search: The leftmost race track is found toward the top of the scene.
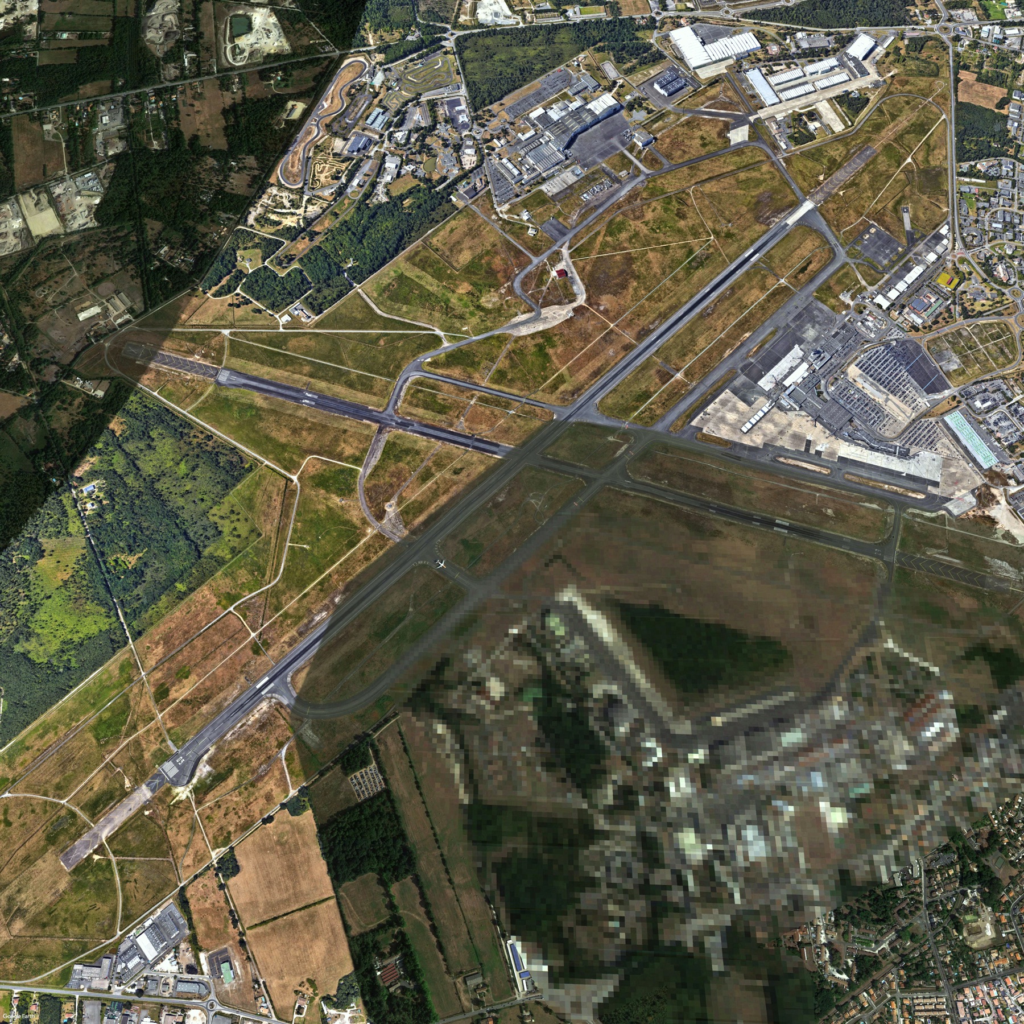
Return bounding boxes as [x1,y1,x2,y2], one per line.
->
[277,57,374,189]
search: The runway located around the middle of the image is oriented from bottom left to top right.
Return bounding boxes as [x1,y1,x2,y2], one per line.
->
[59,90,938,870]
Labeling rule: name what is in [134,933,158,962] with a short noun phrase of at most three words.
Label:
building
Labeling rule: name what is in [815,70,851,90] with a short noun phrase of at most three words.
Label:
hangar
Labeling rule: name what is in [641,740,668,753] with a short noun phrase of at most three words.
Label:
building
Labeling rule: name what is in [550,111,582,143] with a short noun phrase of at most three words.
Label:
hangar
